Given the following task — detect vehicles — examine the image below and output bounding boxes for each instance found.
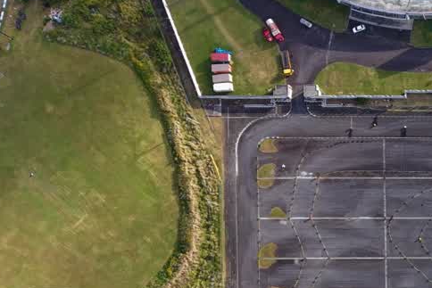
[353,25,365,32]
[213,83,234,93]
[281,52,292,77]
[300,18,311,28]
[212,54,231,63]
[261,28,272,41]
[212,65,232,74]
[214,48,231,55]
[213,75,233,84]
[267,20,286,45]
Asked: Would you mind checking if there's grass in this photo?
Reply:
Yes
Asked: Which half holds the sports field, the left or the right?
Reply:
left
